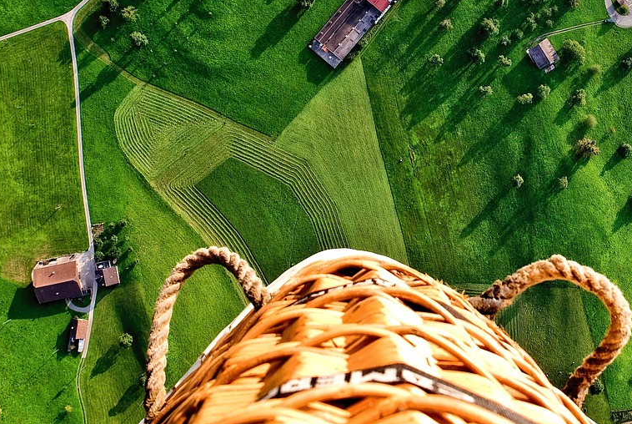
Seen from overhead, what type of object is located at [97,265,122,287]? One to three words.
building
